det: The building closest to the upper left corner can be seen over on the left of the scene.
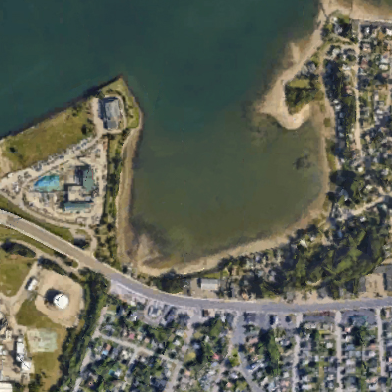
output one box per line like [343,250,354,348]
[104,98,120,130]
